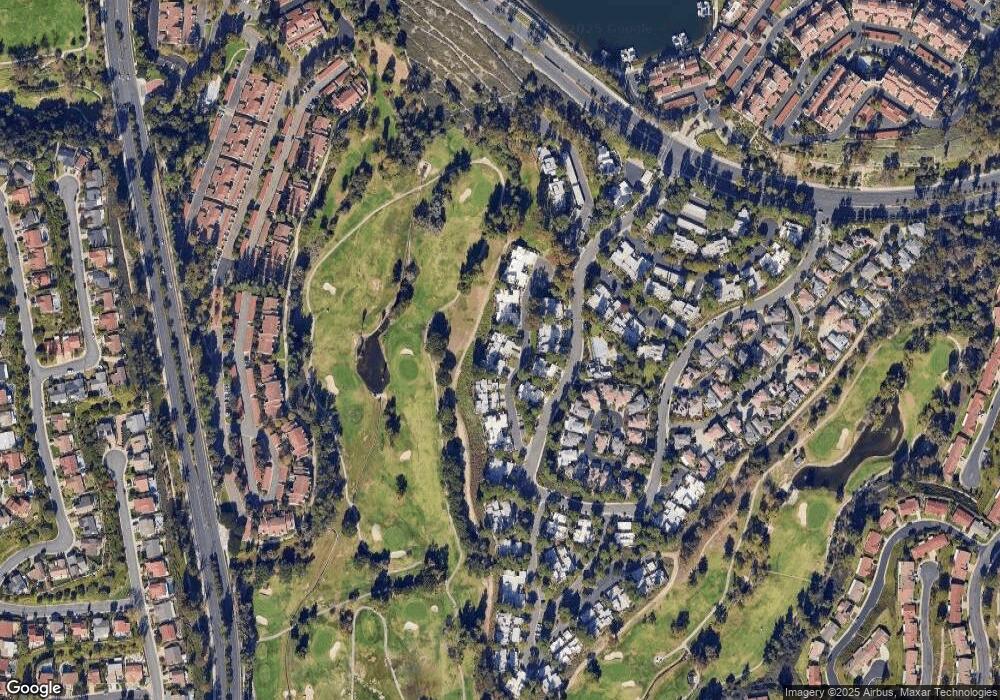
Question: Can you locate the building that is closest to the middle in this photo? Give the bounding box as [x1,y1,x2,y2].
[480,329,520,374]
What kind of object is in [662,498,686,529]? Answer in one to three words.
building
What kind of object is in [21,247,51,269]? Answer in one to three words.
house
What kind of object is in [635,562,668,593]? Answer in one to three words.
building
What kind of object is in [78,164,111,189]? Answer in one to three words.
house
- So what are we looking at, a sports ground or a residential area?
residential area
